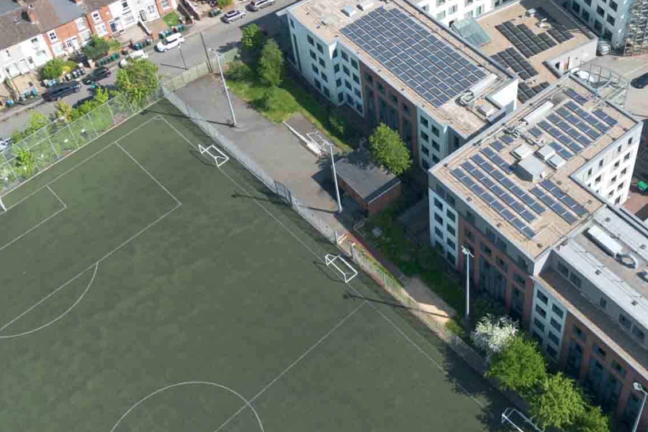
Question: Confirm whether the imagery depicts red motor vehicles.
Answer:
No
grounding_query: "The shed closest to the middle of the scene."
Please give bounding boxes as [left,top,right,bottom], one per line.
[330,151,401,219]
